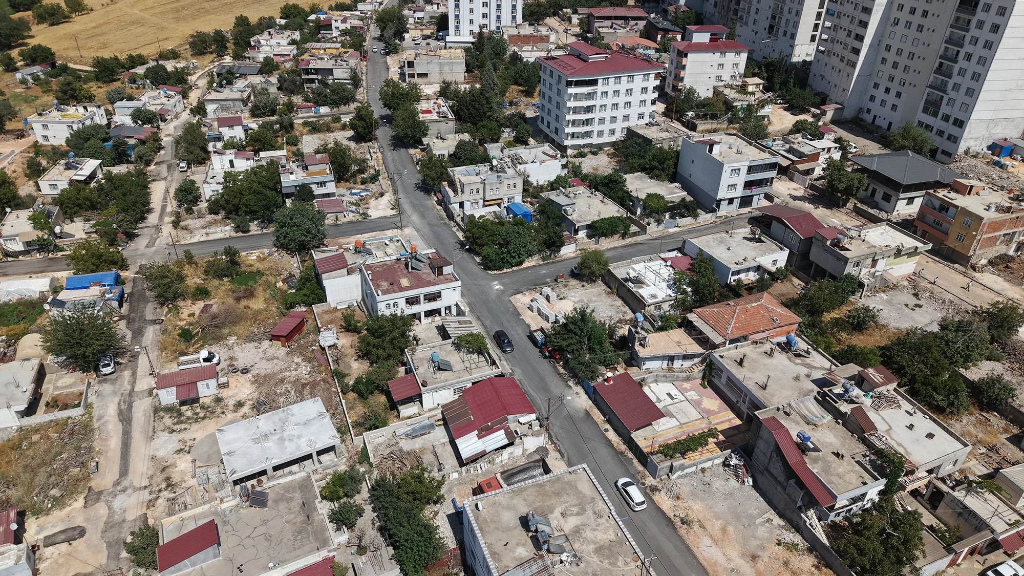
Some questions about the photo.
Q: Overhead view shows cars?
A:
Yes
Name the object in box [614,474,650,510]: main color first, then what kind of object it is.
white car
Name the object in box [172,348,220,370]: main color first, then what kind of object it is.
white truck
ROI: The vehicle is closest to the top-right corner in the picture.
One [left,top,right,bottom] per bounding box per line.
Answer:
[843,137,859,152]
